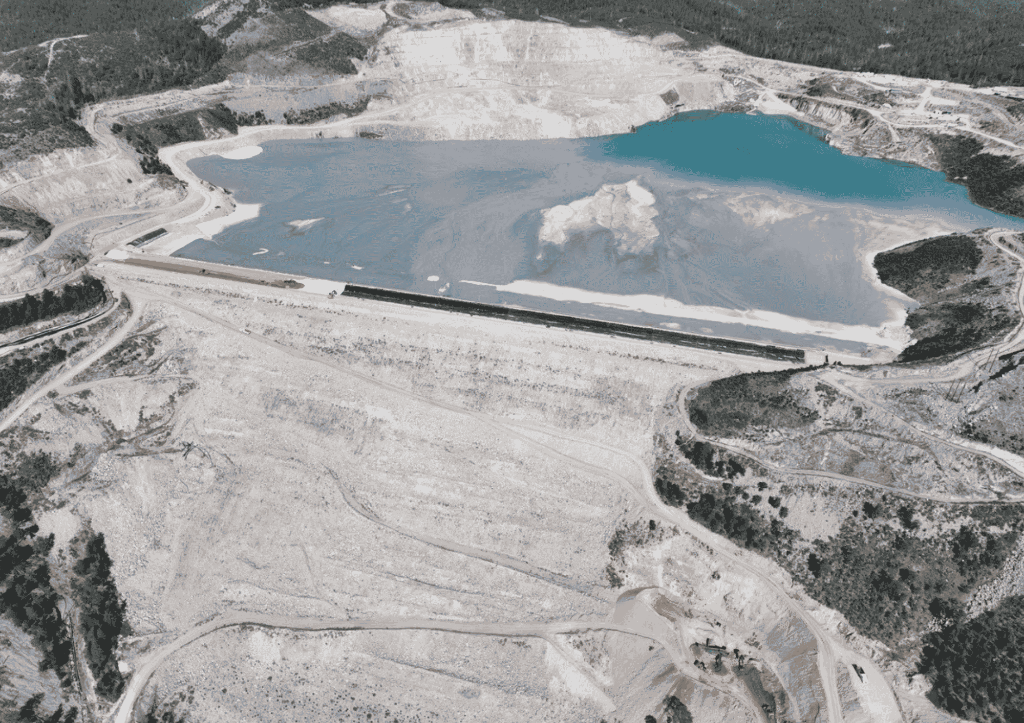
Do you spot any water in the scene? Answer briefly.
Yes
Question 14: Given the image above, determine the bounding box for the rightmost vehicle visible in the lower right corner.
[854,662,869,683]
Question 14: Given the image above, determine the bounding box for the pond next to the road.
[162,111,1024,357]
